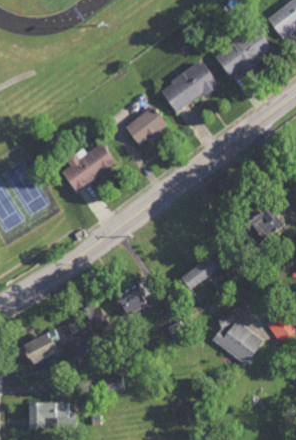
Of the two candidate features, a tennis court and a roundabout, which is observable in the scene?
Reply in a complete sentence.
Looking from above, you can make out a tennis court.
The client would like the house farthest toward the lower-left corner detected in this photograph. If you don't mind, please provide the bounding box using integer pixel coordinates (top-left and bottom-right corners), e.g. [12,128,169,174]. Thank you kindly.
[28,402,74,431]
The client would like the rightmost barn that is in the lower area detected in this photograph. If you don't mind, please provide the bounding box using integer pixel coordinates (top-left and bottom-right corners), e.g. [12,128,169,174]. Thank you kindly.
[268,322,296,344]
